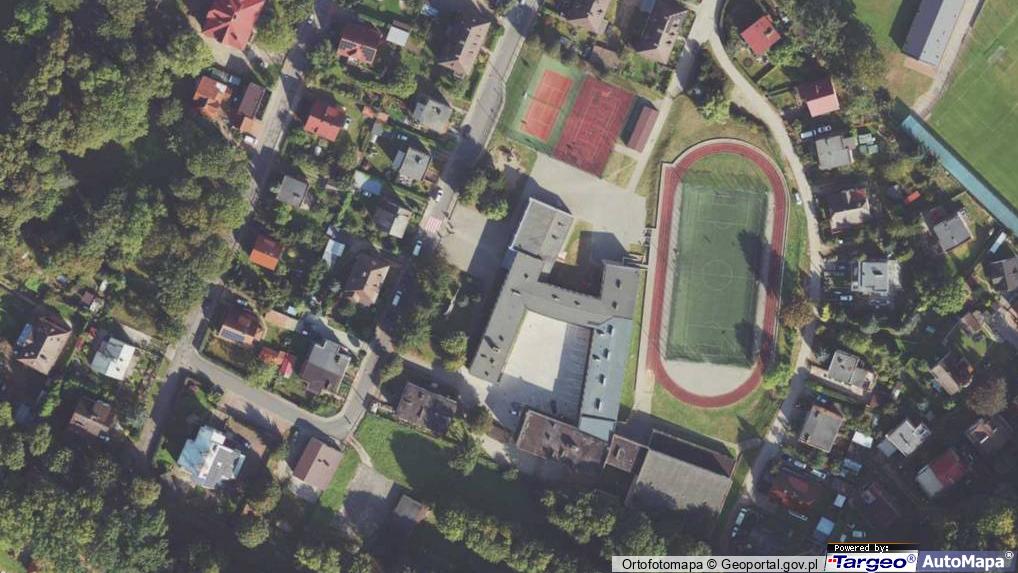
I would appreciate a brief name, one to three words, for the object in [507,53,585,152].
tennis court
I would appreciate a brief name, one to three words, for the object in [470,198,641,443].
building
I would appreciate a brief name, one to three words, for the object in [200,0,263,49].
house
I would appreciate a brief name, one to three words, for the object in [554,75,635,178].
sports court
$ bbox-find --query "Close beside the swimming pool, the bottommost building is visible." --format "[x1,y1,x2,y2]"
[373,202,411,240]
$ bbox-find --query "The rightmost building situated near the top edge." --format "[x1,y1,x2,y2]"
[903,0,965,65]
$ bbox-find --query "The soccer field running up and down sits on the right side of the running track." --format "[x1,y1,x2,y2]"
[928,0,1018,205]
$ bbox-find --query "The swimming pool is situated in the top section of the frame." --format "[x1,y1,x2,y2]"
[363,178,381,197]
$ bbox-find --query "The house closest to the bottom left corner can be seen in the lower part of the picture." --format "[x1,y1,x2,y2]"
[70,397,116,438]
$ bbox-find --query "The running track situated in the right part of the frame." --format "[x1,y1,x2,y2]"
[646,136,788,411]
